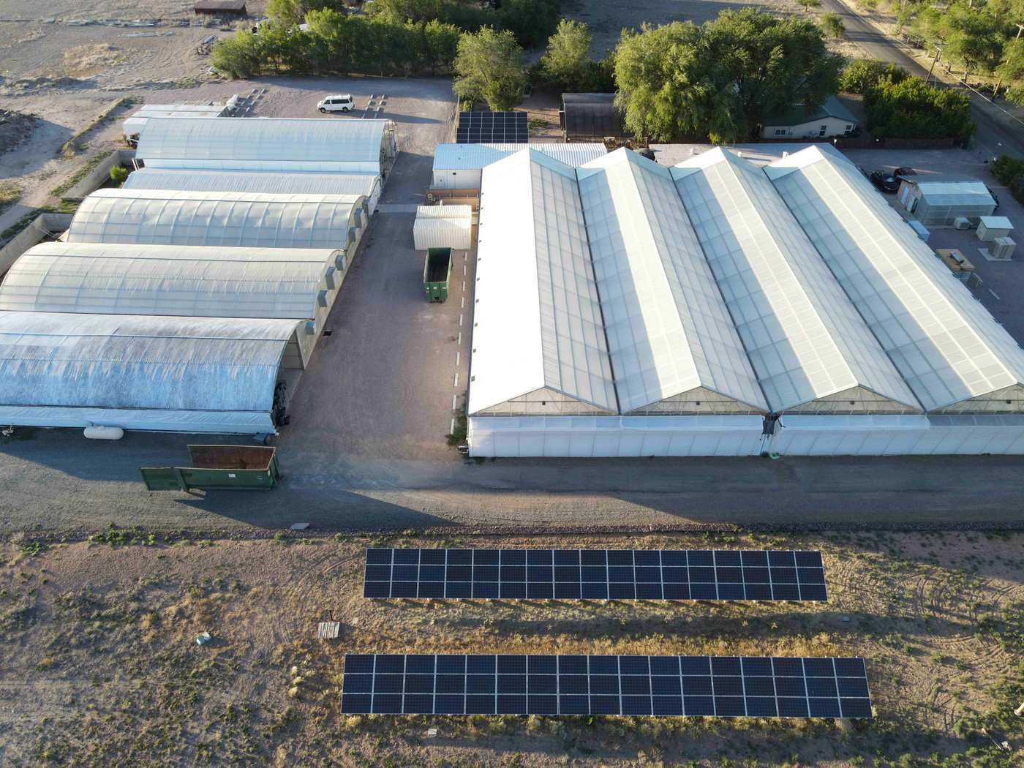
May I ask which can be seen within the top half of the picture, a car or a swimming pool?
car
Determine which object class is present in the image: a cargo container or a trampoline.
cargo container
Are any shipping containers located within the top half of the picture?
Yes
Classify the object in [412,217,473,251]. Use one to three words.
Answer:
shipping container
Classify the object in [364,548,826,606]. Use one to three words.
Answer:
solar array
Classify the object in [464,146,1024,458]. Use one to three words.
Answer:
greenhouse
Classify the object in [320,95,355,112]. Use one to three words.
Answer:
vehicle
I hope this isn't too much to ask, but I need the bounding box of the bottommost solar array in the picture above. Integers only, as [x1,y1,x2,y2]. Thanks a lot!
[339,653,870,721]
